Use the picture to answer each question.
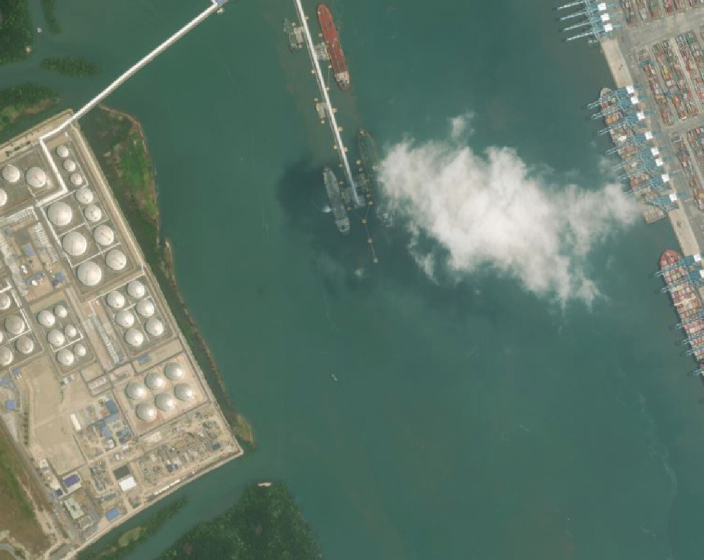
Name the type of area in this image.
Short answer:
port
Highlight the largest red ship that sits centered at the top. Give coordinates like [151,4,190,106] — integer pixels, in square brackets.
[316,4,353,90]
